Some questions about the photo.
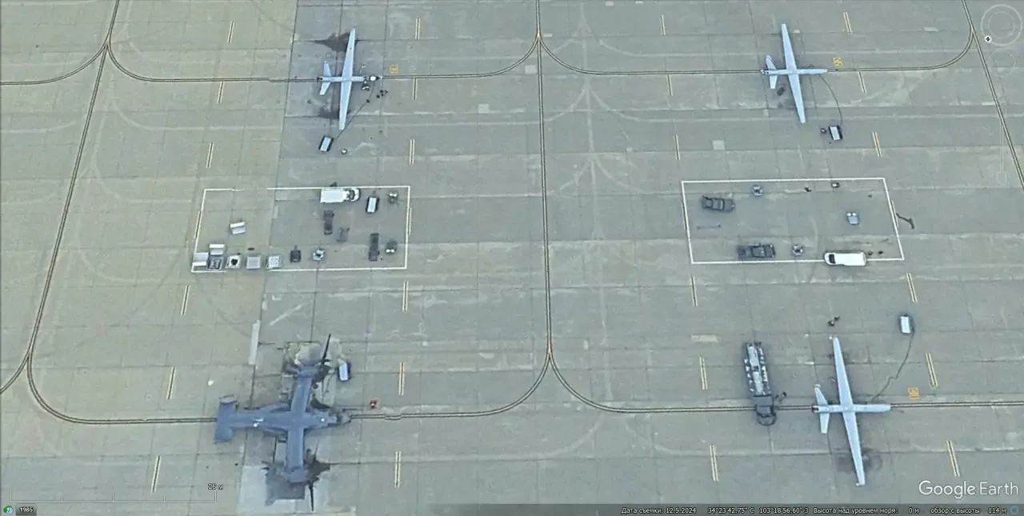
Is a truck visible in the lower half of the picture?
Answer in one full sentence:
Yes, there is a truck in the lower half of the picture.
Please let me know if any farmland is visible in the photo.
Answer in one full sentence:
No, there is no farmland in the image.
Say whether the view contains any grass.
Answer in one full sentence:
No, the scene doesn't show any grass.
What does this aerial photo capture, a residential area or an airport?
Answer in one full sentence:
The picture captures an airport.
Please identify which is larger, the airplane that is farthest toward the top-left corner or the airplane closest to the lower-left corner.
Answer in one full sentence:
The airplane closest to the lower-left corner takes up more space than the airplane that is farthest toward the top-left corner does.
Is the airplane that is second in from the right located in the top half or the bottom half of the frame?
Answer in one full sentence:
The airplane that is second in from the right is in the top half of the image.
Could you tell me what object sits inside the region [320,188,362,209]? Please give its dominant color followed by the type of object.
white truck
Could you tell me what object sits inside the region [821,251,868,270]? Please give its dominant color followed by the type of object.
white vehicle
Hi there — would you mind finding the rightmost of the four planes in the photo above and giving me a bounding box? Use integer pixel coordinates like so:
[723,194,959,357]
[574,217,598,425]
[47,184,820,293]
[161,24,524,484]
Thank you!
[808,335,889,487]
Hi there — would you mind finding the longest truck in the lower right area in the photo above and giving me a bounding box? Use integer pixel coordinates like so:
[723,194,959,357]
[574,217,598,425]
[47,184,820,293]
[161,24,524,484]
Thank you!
[744,343,778,429]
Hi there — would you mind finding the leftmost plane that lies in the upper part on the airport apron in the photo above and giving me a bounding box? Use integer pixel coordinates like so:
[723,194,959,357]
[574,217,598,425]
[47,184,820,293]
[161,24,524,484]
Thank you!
[315,28,382,129]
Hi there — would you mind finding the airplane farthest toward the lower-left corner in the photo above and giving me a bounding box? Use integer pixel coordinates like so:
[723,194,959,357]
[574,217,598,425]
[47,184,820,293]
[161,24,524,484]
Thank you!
[210,323,358,510]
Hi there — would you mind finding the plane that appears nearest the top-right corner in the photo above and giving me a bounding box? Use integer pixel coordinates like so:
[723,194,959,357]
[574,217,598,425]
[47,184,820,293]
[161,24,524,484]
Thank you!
[761,23,826,123]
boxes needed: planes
[808,335,889,487]
[761,23,826,123]
[315,28,382,129]
[210,323,358,510]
